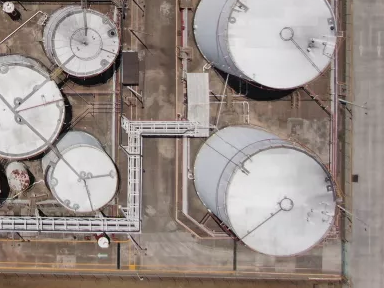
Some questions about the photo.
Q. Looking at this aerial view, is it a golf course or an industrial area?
industrial area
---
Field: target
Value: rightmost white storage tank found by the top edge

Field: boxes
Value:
[189,0,340,90]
